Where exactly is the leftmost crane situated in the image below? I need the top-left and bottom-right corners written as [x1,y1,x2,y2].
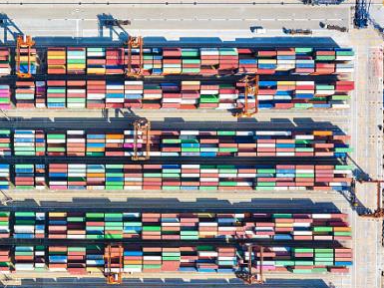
[16,35,36,81]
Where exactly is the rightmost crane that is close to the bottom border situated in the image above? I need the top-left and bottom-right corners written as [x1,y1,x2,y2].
[235,239,264,285]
